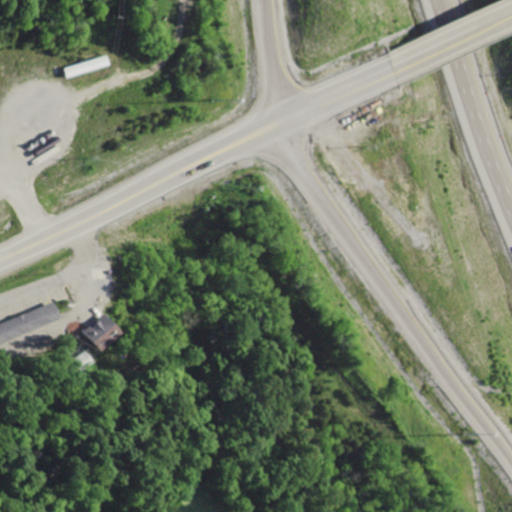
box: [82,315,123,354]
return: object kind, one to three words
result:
house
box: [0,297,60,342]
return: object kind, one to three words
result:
barn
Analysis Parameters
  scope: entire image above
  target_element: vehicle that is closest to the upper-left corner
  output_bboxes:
[54,56,110,78]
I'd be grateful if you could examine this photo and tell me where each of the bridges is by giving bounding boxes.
[382,0,512,90]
